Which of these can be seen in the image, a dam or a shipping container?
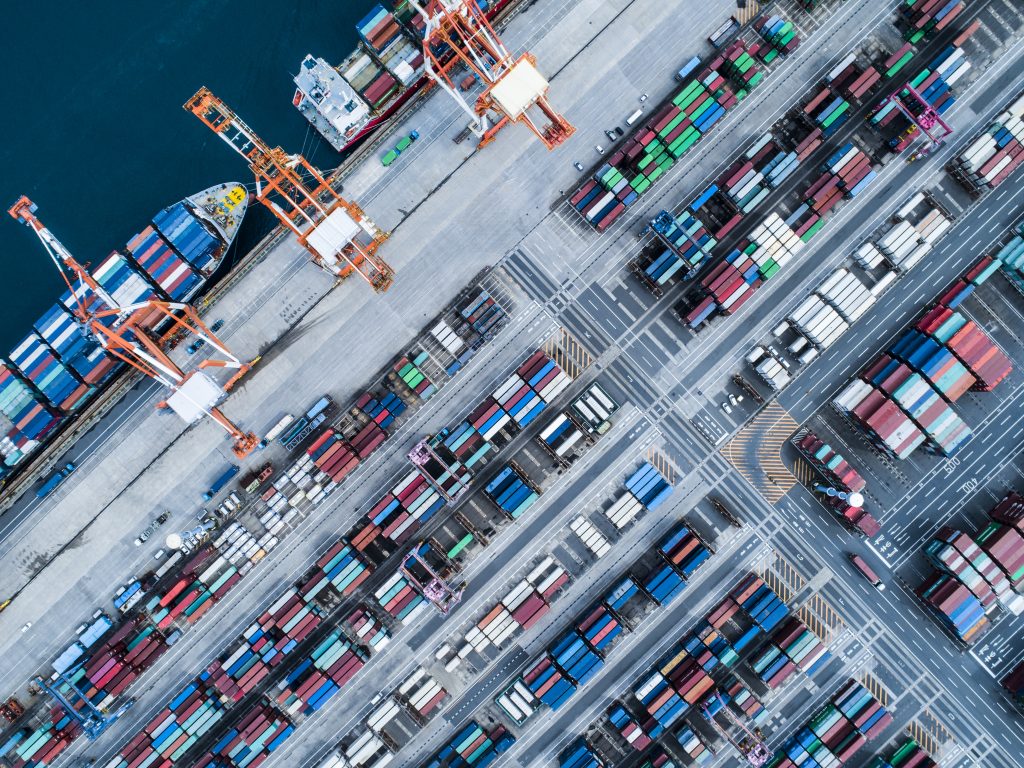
shipping container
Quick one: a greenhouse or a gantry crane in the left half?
gantry crane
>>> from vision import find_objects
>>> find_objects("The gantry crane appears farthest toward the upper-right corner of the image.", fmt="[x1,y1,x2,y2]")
[858,83,949,167]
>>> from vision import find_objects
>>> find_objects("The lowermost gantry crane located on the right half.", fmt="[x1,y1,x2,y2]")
[699,669,771,761]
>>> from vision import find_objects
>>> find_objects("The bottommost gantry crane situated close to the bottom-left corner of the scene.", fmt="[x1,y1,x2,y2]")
[35,654,130,747]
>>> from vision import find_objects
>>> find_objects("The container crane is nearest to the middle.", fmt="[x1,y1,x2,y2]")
[407,431,479,505]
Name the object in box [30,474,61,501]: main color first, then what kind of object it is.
blue shipping container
